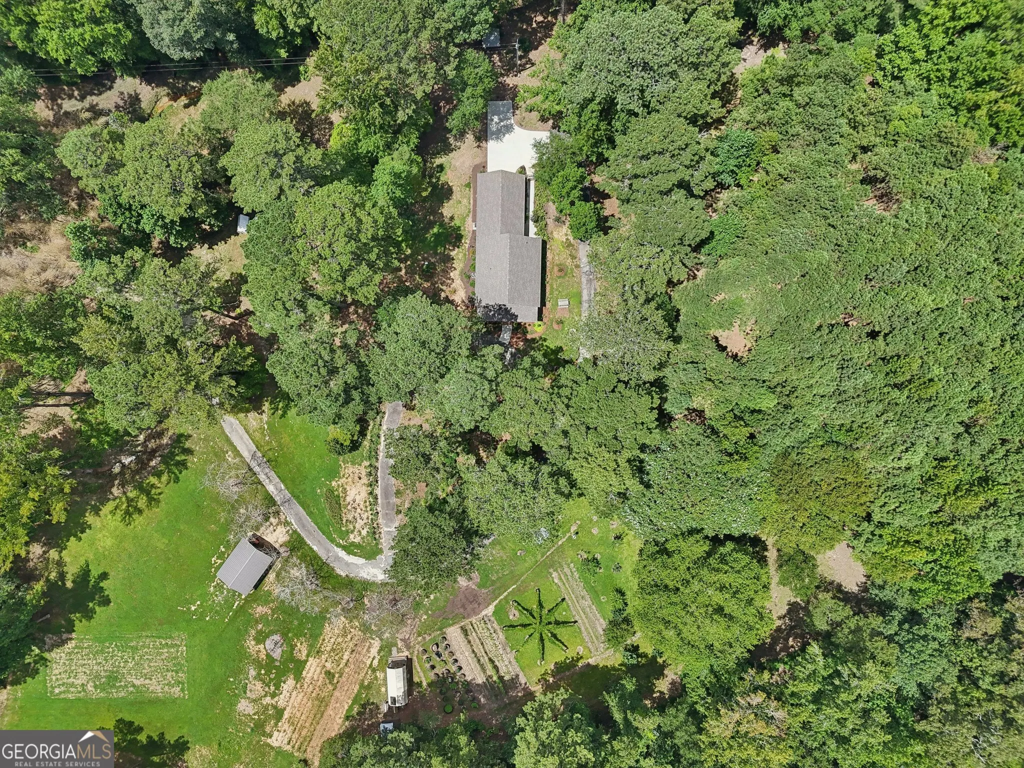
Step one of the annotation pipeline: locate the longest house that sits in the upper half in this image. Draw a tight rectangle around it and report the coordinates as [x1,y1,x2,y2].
[470,169,542,323]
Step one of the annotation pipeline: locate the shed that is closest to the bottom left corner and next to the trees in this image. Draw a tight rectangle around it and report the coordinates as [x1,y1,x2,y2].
[217,527,283,596]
